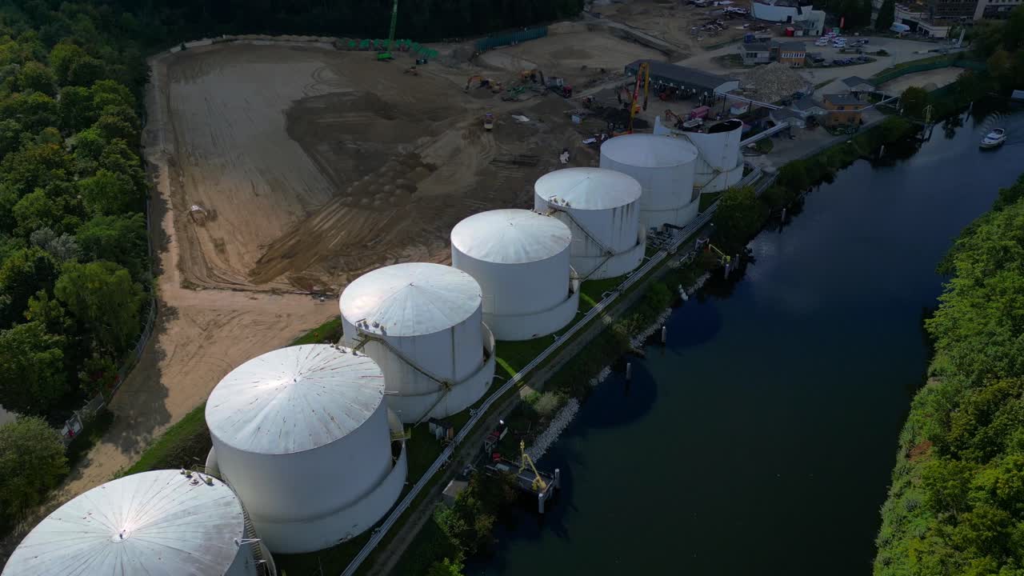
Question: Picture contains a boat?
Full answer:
Yes, the image includes a boat.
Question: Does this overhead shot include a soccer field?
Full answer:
No, there is no soccer field in the image.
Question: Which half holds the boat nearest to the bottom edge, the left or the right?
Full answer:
You can find the boat nearest to the bottom edge on the right side of the picture.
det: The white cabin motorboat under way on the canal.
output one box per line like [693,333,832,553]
[983,124,1011,148]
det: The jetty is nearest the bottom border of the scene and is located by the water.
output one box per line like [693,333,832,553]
[474,445,562,508]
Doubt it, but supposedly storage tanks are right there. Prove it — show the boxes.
[339,262,498,423]
[534,168,654,281]
[1,459,278,576]
[449,204,586,341]
[206,336,411,558]
[653,115,752,192]
[600,132,703,232]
